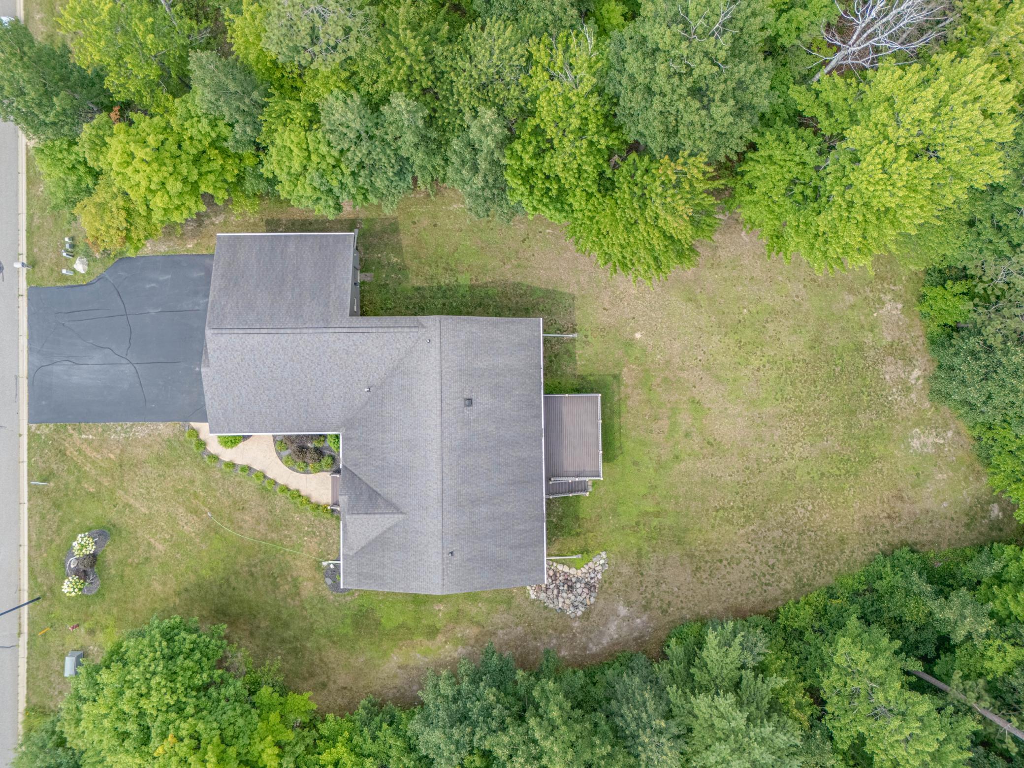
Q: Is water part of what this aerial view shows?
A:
No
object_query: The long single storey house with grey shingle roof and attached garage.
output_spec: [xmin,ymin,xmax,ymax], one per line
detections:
[202,229,581,595]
